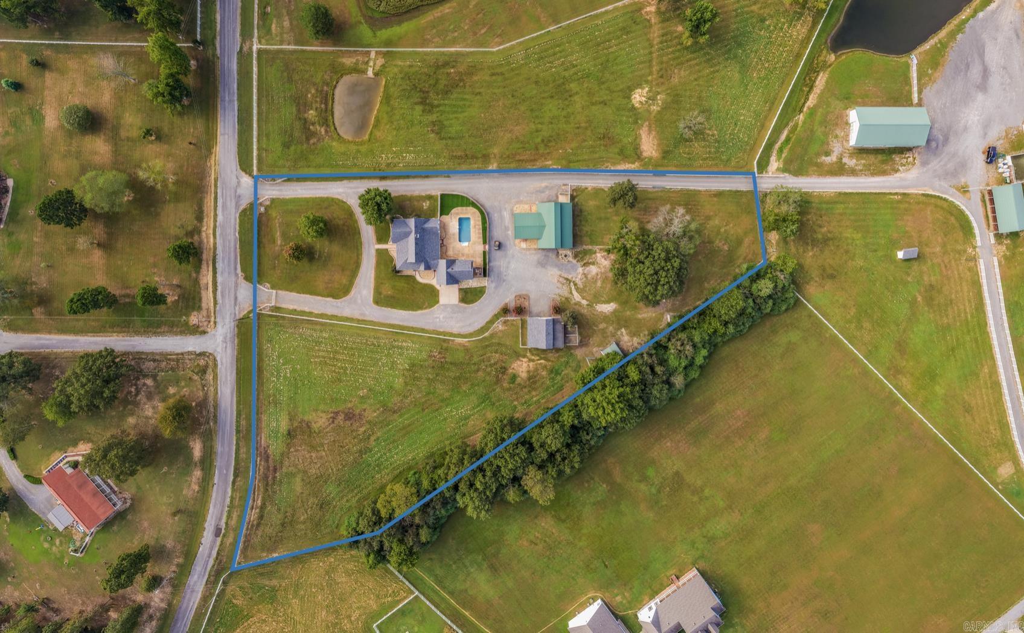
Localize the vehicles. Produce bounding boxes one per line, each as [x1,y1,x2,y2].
[986,145,998,163]
[494,241,499,249]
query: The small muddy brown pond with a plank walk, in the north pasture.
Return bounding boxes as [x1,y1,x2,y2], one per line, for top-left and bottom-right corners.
[334,75,385,140]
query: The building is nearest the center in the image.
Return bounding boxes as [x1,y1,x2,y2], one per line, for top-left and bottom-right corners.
[527,317,564,349]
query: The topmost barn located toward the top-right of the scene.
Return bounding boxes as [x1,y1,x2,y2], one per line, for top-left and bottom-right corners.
[848,106,931,148]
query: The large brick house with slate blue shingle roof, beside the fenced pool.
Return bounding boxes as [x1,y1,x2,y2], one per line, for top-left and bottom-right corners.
[391,217,473,285]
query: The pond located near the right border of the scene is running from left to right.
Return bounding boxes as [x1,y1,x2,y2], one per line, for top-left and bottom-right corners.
[828,0,973,57]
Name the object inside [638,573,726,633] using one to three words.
house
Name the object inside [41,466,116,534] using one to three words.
house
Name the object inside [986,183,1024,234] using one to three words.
barn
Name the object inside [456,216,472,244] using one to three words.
swimming pool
